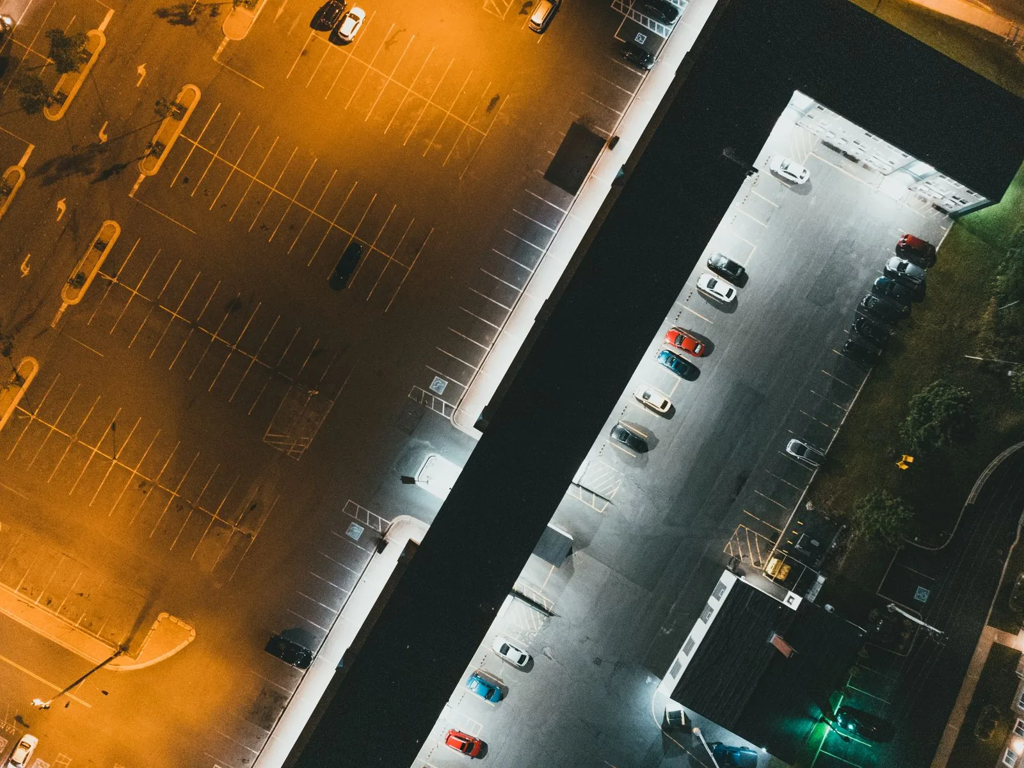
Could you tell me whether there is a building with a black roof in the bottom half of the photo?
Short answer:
Yes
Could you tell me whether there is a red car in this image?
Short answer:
Yes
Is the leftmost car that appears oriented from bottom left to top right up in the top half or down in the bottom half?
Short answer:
bottom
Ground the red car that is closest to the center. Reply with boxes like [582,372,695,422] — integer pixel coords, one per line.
[664,327,706,359]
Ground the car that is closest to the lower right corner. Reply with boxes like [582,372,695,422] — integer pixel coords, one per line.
[838,705,887,744]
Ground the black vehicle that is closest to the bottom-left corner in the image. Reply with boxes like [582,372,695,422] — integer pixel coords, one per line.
[264,631,315,670]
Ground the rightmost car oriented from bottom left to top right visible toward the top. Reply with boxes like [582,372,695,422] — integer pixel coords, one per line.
[529,0,562,35]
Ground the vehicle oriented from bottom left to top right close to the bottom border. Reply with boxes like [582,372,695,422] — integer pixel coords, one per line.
[4,732,37,768]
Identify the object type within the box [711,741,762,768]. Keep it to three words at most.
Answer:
vehicle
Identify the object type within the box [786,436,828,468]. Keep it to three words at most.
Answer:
car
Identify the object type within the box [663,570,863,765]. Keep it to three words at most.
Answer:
building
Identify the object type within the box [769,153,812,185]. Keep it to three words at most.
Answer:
car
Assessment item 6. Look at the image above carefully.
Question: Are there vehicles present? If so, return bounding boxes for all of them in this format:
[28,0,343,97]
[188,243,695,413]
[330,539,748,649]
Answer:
[4,732,37,768]
[786,436,828,468]
[664,327,706,359]
[335,4,366,44]
[711,741,762,768]
[873,275,917,307]
[529,0,562,35]
[491,636,532,669]
[695,272,738,304]
[657,348,699,380]
[632,384,674,416]
[616,39,658,73]
[444,726,484,759]
[838,705,887,744]
[705,251,748,283]
[894,232,938,265]
[641,0,683,28]
[466,671,504,701]
[769,153,812,185]
[329,241,366,288]
[264,631,315,670]
[0,56,9,80]
[608,422,650,454]
[315,0,348,31]
[884,254,928,286]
